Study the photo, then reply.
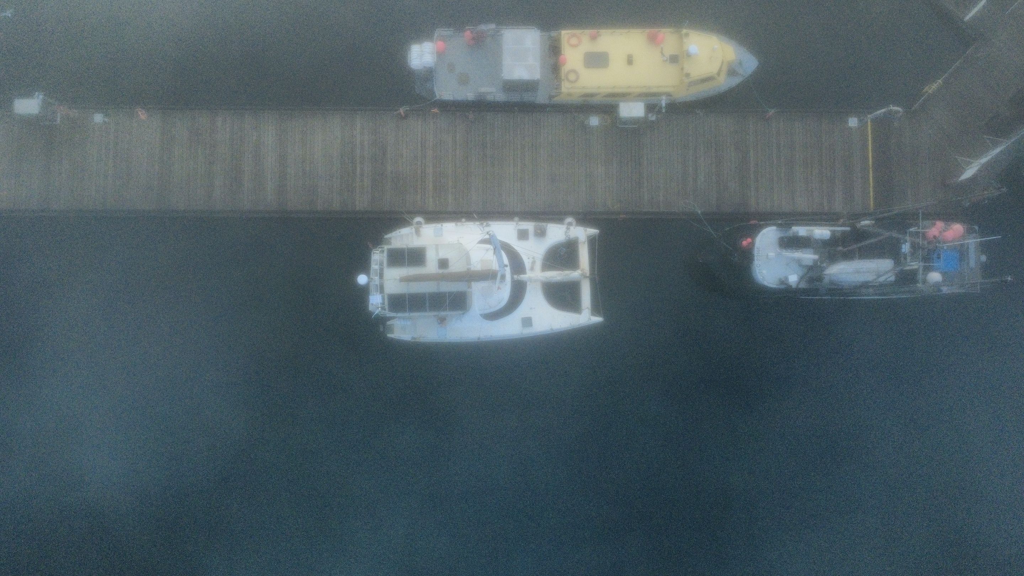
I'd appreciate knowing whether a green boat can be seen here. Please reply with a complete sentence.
No, this view has no green boat in it.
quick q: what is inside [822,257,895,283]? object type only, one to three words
boat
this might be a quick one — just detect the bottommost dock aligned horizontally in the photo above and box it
[0,105,967,222]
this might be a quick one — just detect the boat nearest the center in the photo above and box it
[357,221,603,342]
